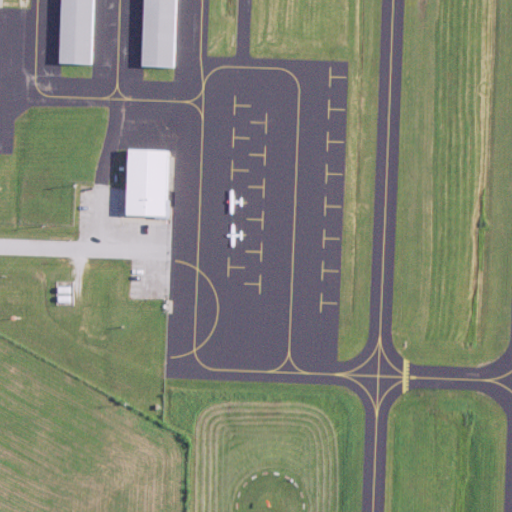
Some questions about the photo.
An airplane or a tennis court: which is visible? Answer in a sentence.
There is an airplane in the scene.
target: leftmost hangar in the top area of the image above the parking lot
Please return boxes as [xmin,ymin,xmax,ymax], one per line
[58,0,96,66]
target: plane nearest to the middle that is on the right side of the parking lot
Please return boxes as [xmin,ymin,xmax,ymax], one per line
[228,224,244,248]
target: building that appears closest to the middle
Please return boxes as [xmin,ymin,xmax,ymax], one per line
[125,148,172,220]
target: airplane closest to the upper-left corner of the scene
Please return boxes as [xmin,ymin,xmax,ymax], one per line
[228,190,244,216]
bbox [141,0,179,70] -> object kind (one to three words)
hangar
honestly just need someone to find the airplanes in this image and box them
[228,190,244,216]
[228,224,244,248]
